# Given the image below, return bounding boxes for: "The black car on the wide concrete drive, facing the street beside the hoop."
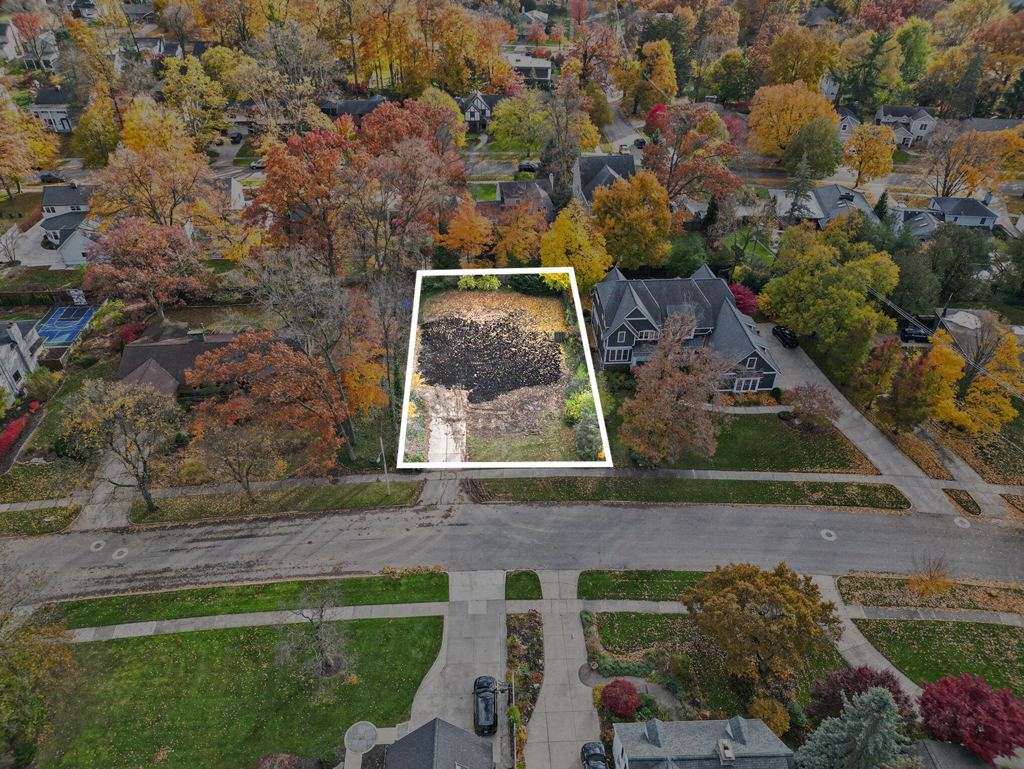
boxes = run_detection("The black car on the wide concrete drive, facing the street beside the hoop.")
[473,677,499,737]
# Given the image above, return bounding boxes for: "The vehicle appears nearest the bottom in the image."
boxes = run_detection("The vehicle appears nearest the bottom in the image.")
[582,733,612,769]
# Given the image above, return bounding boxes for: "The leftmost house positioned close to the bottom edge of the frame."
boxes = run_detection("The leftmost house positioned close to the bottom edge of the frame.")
[373,711,498,769]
